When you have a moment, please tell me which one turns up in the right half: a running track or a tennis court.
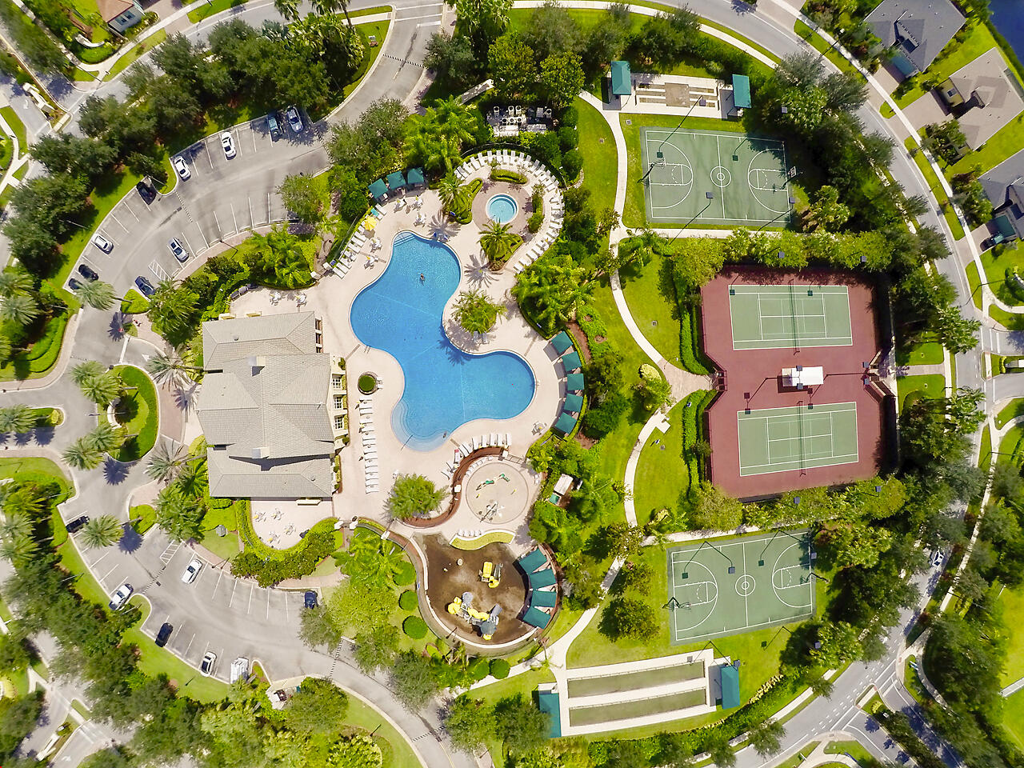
tennis court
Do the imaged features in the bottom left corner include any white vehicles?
Yes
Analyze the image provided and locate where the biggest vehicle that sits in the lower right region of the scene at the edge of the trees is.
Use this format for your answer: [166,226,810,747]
[930,545,949,572]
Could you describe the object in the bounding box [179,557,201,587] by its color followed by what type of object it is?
white car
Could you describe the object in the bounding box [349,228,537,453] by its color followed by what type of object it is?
blue swimming pool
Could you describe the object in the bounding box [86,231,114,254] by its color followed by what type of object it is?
white car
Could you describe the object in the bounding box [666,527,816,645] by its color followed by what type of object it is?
green basketball court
